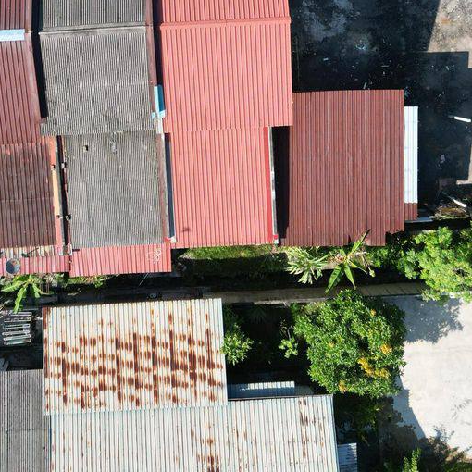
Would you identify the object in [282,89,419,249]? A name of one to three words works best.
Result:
shed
